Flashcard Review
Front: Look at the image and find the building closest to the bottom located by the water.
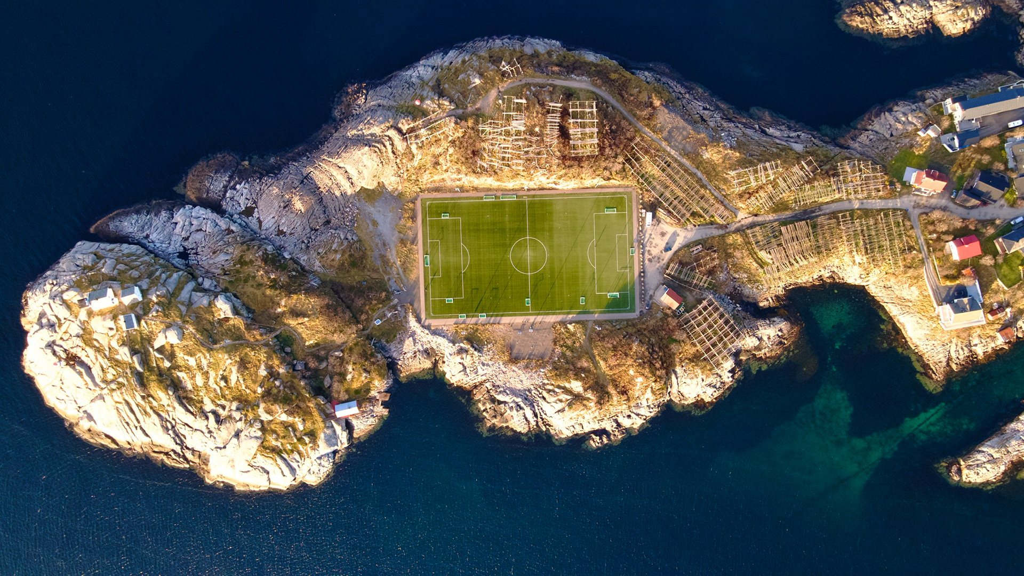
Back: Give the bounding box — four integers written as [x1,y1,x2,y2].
[333,398,383,418]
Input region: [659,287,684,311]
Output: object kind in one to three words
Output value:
building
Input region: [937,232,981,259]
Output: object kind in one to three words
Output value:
house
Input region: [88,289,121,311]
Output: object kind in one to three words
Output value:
house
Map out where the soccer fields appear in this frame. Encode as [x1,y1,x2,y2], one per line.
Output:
[421,191,636,319]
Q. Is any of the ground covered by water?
Yes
